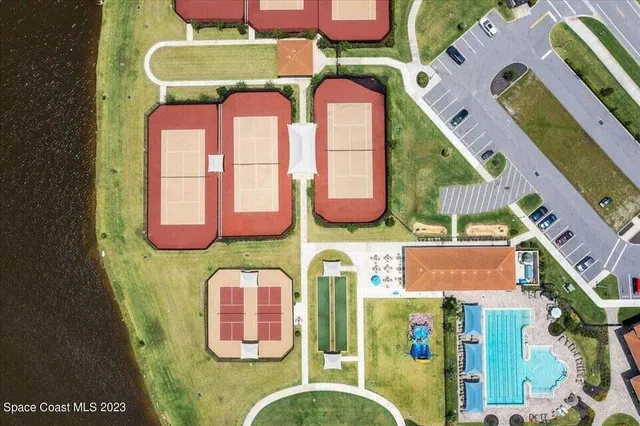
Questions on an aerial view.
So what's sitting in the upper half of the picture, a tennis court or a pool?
tennis court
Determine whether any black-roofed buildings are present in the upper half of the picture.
No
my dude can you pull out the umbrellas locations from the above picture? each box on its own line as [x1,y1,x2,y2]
[549,307,561,318]
[371,275,381,285]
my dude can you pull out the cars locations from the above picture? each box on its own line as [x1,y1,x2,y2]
[576,255,594,272]
[556,230,574,246]
[481,18,498,37]
[529,205,548,222]
[480,148,494,162]
[633,277,640,295]
[451,110,468,126]
[448,46,464,64]
[598,195,613,208]
[538,213,556,230]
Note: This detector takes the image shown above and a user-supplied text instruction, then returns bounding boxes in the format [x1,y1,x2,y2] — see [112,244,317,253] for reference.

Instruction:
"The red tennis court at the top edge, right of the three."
[319,0,390,40]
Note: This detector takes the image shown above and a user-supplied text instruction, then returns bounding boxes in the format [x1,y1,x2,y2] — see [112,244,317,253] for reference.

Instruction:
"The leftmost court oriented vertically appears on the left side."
[149,104,218,248]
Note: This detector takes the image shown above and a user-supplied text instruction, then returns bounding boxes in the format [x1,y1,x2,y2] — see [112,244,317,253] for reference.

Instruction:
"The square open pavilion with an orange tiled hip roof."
[278,39,313,76]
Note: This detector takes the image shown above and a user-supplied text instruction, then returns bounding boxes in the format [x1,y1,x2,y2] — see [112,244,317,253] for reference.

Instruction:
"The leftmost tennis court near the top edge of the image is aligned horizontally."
[176,0,244,22]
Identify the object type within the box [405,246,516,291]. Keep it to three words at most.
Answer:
building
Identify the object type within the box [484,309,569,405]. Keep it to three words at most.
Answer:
swimming pool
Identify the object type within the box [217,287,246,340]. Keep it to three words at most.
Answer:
sports court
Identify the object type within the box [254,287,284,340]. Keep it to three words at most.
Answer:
sports court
